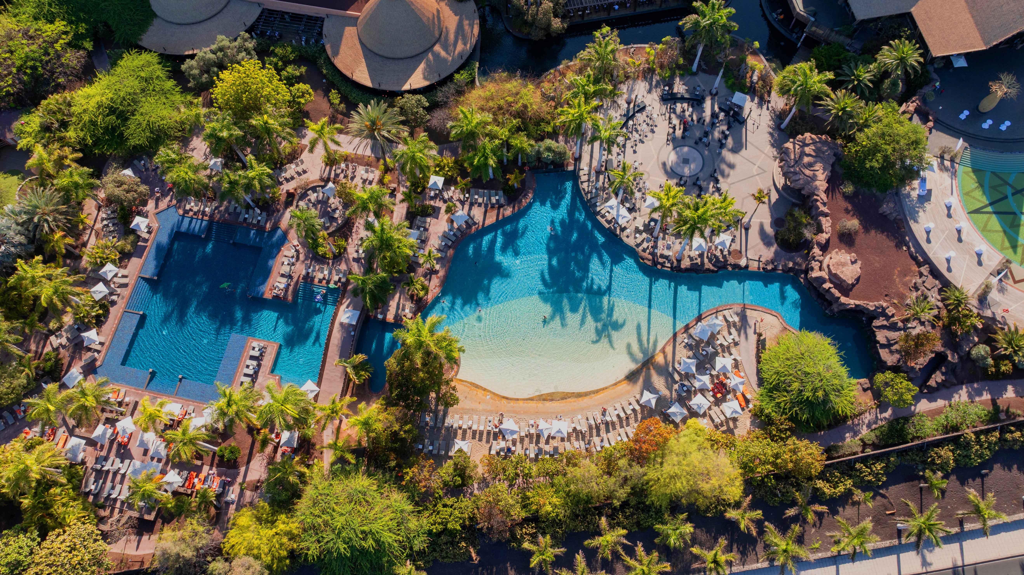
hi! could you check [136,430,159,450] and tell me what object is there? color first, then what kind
white umbrella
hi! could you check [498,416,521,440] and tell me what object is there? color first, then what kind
white umbrella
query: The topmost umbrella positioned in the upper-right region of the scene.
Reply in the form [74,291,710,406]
[946,55,968,75]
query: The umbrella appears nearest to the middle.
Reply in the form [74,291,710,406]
[449,208,471,229]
